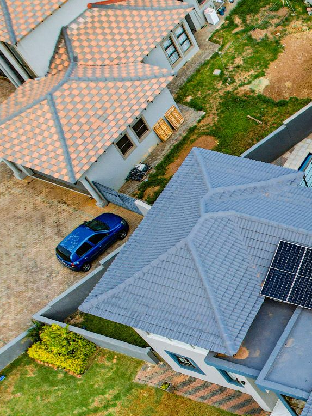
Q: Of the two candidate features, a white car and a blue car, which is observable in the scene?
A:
blue car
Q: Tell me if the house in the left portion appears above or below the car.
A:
above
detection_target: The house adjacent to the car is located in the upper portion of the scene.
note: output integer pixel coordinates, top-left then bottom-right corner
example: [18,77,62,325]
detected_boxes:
[0,0,230,210]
